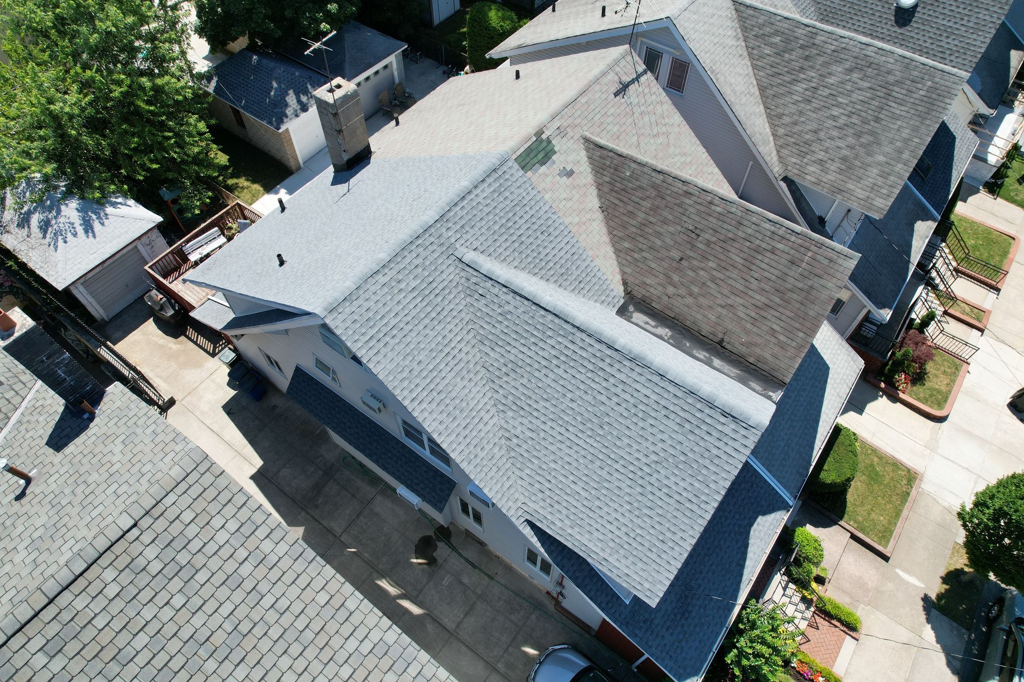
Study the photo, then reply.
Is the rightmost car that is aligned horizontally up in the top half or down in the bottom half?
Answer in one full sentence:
You can find the rightmost car that is aligned horizontally in the bottom half.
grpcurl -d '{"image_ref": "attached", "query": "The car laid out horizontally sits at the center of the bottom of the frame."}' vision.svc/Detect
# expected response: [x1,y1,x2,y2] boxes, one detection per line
[526,634,631,682]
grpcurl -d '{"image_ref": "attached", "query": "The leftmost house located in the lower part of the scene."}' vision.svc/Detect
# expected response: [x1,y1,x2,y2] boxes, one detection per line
[0,286,461,682]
